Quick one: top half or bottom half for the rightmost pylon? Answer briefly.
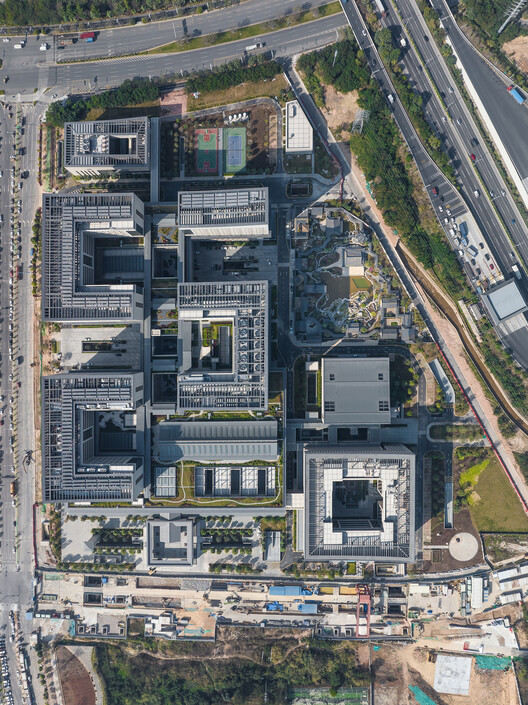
top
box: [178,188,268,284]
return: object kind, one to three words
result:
building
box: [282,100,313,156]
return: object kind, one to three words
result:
building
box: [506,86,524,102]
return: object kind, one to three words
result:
vehicle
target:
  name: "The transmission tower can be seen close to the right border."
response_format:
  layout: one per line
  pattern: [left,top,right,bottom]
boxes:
[495,0,524,31]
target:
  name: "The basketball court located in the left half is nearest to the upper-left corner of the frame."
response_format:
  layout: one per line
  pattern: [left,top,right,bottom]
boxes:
[196,128,218,172]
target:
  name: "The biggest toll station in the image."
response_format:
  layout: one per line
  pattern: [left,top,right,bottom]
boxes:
[481,280,527,326]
